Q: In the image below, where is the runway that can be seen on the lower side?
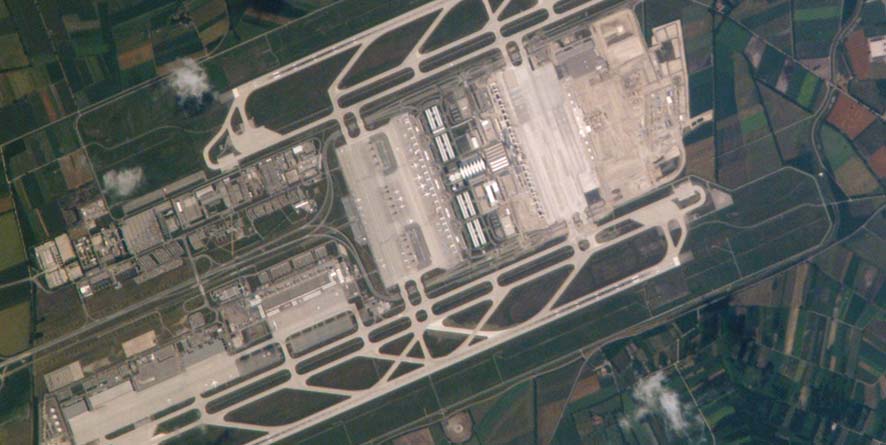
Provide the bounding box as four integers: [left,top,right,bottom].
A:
[245,256,679,445]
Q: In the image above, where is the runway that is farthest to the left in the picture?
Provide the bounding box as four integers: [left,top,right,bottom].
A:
[233,0,459,98]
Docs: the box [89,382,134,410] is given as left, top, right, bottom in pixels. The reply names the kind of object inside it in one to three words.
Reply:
hangar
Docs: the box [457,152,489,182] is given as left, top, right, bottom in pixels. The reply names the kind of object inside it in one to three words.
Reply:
building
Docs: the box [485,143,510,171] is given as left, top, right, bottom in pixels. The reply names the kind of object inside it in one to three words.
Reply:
building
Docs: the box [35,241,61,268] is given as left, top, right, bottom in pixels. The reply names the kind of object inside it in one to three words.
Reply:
shed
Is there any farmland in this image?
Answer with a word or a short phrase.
Yes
